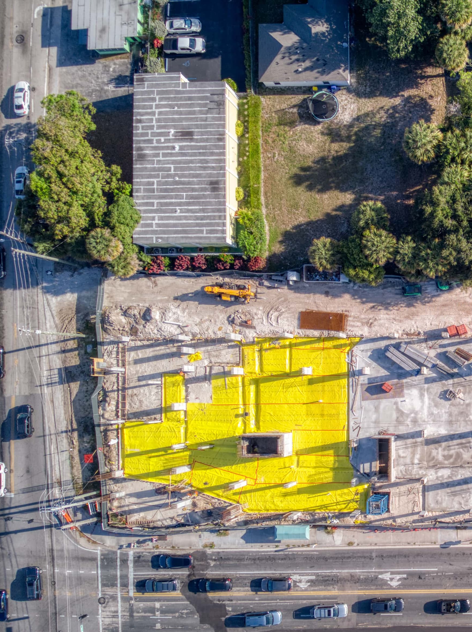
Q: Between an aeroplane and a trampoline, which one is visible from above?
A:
trampoline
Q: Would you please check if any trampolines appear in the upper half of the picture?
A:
Yes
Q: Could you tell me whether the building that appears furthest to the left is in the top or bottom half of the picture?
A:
top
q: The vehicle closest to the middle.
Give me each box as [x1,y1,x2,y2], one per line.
[206,281,260,304]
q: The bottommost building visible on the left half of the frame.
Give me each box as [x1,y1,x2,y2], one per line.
[132,72,240,251]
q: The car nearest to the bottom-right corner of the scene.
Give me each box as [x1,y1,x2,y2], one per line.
[438,598,470,614]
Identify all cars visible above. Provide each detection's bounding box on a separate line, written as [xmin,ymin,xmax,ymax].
[10,166,28,199]
[438,598,470,614]
[0,462,8,496]
[0,590,10,621]
[314,603,349,620]
[261,576,293,593]
[23,566,44,601]
[0,345,8,378]
[197,576,235,594]
[166,17,202,34]
[152,554,193,570]
[14,405,35,439]
[145,576,180,595]
[371,597,404,615]
[245,611,283,628]
[12,82,31,116]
